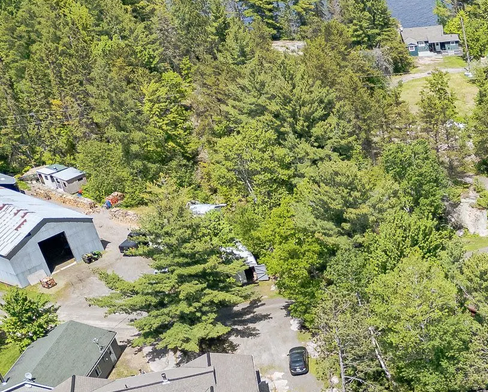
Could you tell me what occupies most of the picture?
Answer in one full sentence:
The bulk of the photo consists of trees.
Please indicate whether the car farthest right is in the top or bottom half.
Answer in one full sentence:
Seen from above, the car farthest right lies in the bottom half of the view.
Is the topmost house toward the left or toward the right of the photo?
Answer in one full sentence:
The topmost house is on the right side of the image.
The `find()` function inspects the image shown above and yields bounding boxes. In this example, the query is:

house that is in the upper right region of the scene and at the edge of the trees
[404,25,472,58]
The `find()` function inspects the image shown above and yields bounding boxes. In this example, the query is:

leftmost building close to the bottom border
[0,322,119,392]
